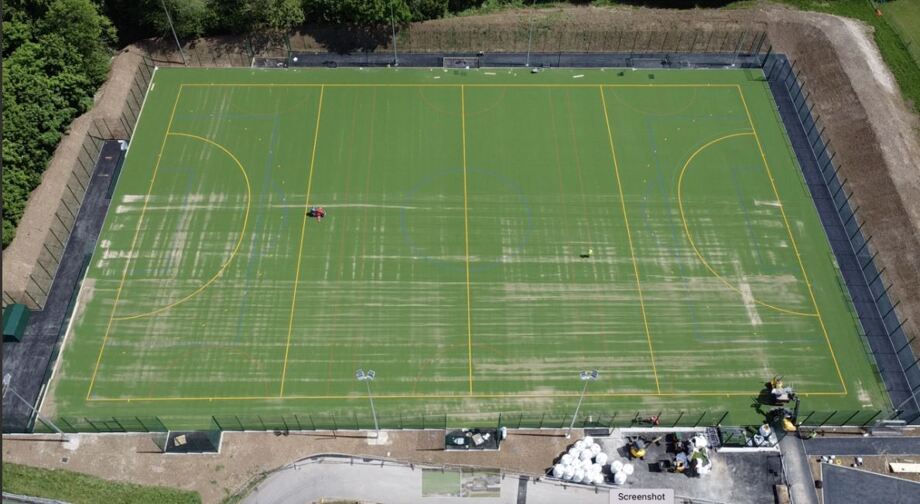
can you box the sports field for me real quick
[34,67,898,431]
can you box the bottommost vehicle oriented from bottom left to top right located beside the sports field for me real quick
[626,431,661,456]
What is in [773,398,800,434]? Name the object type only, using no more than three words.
work vehicle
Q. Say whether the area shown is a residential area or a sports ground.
sports ground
